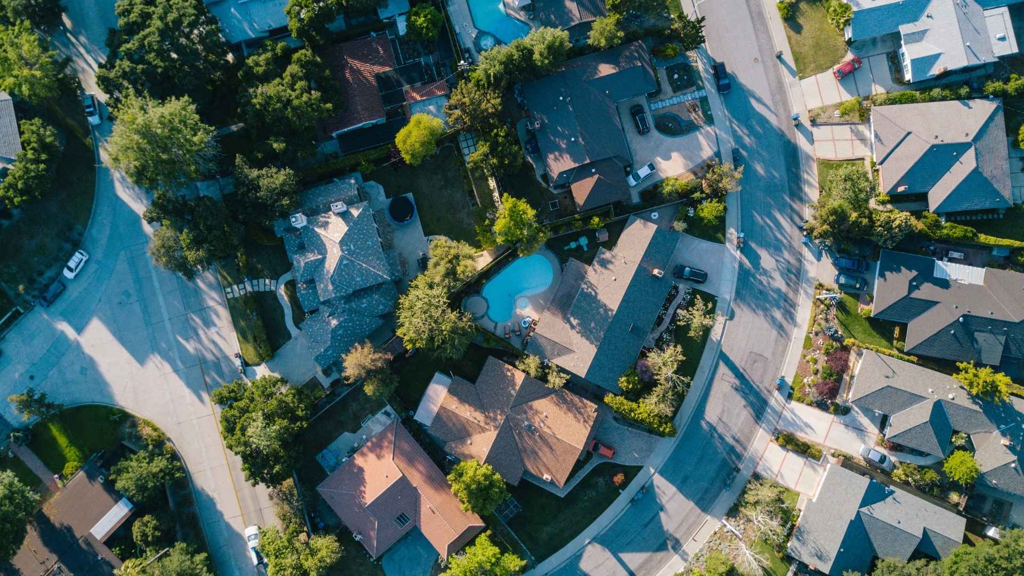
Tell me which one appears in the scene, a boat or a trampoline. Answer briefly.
trampoline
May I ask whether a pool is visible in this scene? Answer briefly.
Yes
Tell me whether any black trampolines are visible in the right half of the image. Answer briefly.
No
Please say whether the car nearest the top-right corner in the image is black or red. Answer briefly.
red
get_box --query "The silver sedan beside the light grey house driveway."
[859,445,892,470]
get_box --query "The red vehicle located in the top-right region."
[829,55,863,81]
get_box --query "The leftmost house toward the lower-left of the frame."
[12,468,139,576]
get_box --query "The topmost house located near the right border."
[843,0,1024,84]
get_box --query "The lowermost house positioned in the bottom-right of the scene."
[786,463,967,576]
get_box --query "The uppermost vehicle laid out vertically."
[711,58,732,98]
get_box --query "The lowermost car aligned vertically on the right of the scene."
[631,102,650,137]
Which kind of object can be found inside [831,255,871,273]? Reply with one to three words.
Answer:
vehicle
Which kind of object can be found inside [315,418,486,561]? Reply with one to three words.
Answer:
house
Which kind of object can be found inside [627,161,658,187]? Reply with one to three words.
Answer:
car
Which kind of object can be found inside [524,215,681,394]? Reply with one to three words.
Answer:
house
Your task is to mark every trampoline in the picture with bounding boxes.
[388,196,415,223]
